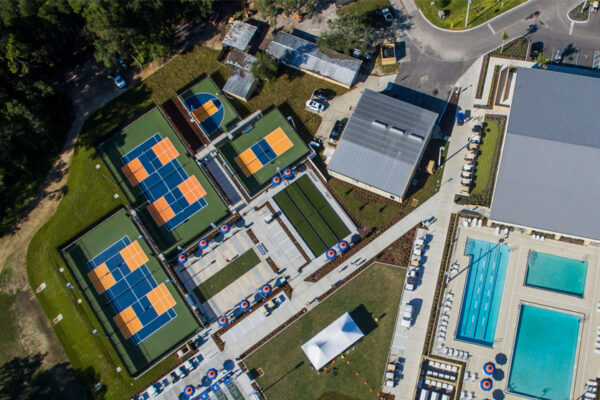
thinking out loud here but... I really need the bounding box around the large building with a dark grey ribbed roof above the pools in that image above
[490,67,600,249]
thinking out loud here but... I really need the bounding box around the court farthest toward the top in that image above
[178,77,239,141]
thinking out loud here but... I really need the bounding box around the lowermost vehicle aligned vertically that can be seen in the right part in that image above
[401,300,414,329]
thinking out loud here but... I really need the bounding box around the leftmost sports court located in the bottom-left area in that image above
[62,210,200,373]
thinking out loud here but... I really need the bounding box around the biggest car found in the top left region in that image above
[114,75,127,90]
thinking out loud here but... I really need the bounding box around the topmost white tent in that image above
[301,313,365,372]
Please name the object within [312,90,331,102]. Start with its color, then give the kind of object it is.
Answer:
black vehicle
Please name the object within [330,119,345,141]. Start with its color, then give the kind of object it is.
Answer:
black vehicle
